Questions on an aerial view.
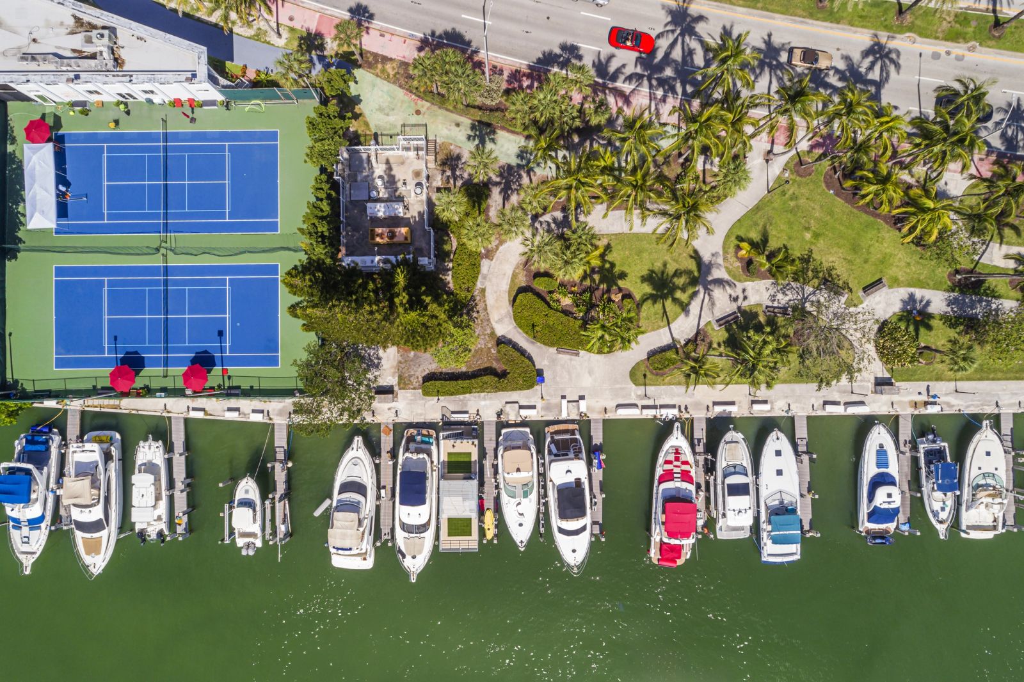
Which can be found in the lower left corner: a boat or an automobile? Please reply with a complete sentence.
The feature located in the lower left corner is a boat.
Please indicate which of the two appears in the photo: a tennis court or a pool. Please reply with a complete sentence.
The image shows a tennis court.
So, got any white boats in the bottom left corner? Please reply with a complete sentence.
Yes, there is a white boat in the bottom left corner.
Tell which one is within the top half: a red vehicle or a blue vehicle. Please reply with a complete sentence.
The one visible within the top half is a red vehicle.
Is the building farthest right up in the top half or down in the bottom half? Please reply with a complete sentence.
Seen from above, the building farthest right lies in the top half of the view.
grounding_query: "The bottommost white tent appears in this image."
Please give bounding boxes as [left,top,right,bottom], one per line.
[24,142,73,233]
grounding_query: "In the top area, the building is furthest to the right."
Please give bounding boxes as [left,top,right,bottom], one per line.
[333,135,434,271]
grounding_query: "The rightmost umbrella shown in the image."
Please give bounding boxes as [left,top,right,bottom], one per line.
[183,364,209,390]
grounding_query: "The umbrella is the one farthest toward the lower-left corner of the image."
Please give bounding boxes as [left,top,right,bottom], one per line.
[110,365,139,391]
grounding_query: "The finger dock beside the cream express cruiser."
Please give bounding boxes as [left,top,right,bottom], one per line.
[998,413,1016,525]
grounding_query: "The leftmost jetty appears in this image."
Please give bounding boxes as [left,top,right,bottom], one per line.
[59,408,83,525]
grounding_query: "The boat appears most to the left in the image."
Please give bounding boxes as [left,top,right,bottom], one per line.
[0,424,61,573]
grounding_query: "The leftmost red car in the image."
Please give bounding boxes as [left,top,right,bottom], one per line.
[607,27,654,56]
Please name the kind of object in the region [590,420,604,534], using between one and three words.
pier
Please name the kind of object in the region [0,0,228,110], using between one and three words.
building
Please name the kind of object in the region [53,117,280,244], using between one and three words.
tennis court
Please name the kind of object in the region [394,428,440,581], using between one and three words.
boat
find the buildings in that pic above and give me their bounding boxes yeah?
[333,135,434,271]
[0,0,228,110]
